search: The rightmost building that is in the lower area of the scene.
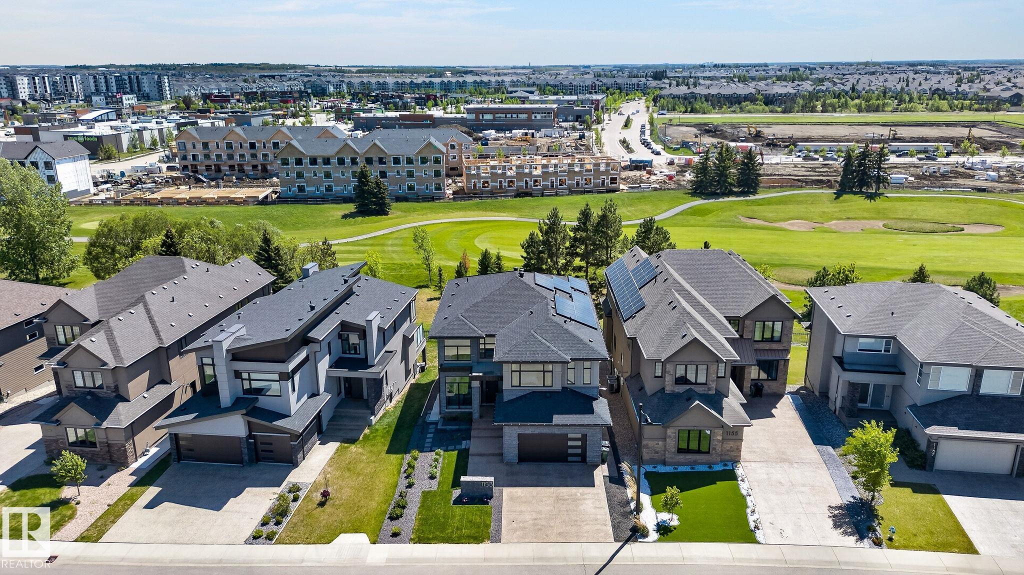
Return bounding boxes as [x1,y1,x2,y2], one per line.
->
[804,279,1024,471]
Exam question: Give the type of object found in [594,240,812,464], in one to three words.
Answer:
house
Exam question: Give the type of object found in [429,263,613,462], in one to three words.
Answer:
house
